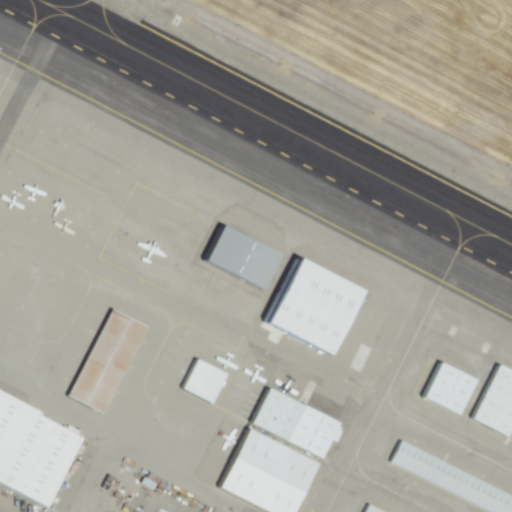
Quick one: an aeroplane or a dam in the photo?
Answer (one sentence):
The image shows an aeroplane.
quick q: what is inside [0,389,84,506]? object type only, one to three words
building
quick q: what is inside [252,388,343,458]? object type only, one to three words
hangar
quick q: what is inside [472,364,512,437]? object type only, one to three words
hangar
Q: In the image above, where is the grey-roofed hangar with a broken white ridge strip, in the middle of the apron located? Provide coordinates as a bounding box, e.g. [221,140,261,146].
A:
[206,225,282,289]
